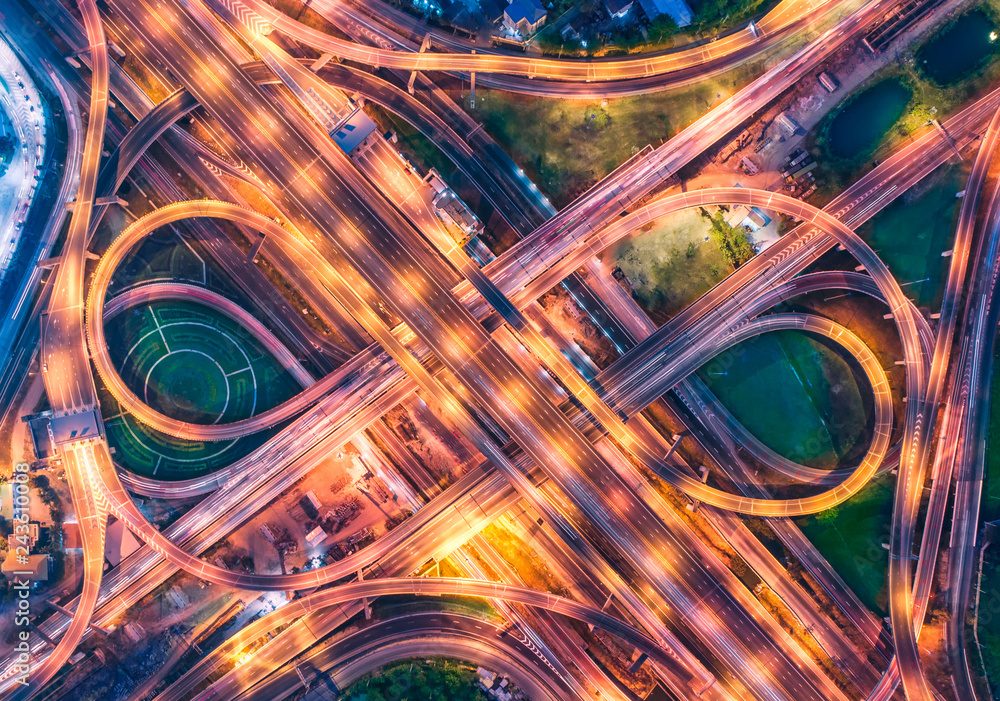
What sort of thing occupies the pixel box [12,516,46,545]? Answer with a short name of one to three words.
building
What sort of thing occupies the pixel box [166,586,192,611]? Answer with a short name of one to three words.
shed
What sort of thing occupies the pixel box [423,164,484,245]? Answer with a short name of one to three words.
building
